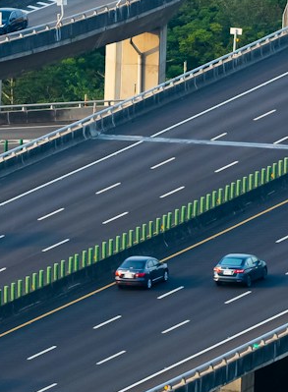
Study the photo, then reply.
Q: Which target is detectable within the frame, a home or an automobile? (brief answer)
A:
automobile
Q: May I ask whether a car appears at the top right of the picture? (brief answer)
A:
No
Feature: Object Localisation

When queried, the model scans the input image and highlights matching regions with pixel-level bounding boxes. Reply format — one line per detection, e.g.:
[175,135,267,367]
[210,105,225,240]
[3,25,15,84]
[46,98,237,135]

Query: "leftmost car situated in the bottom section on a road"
[118,254,175,288]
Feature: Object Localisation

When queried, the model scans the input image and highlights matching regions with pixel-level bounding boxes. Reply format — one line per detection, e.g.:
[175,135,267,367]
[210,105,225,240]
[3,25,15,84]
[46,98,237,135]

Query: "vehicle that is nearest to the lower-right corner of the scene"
[217,252,273,287]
